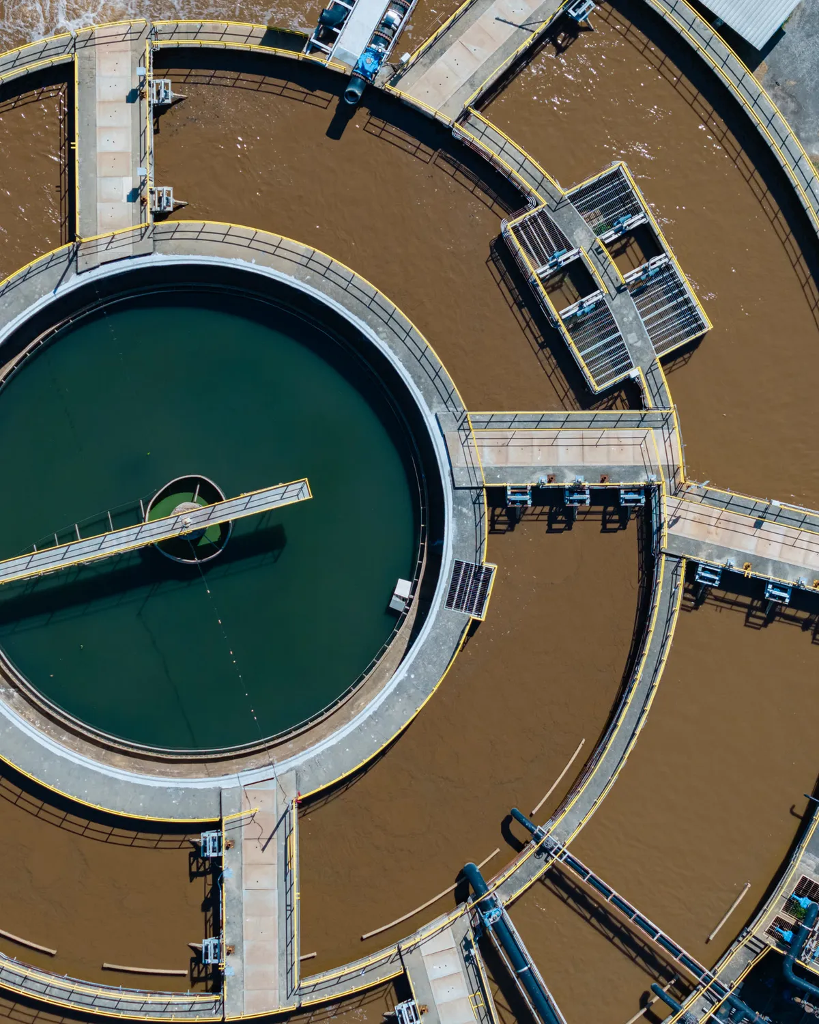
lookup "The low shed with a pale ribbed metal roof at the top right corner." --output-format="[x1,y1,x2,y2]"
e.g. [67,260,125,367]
[686,0,800,53]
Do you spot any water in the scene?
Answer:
Yes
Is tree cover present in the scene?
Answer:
No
